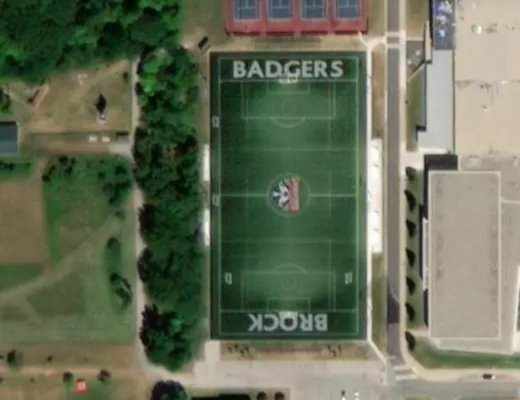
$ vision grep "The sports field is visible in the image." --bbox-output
[210,52,367,340]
